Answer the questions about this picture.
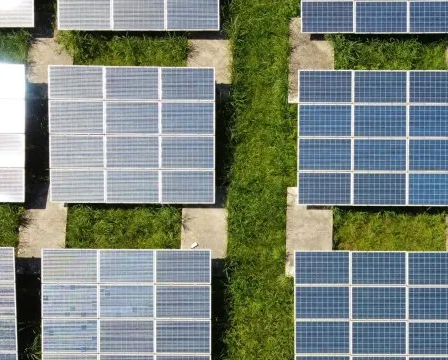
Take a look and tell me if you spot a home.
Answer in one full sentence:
No, there's no home here.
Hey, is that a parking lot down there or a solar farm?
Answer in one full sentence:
This looks like a solar farm.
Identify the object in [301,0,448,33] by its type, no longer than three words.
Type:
solar array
